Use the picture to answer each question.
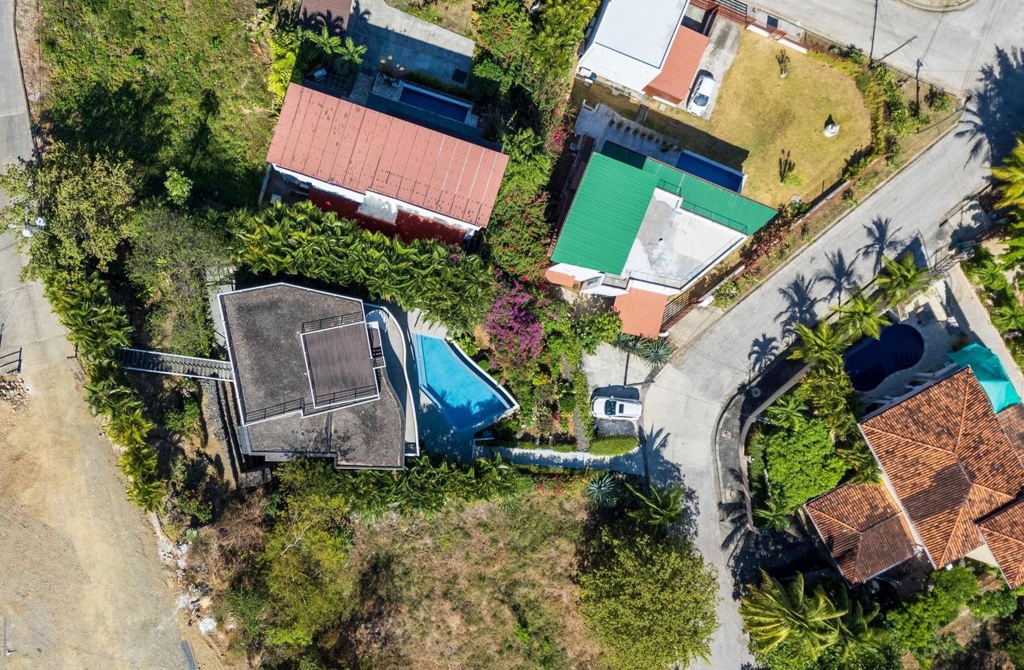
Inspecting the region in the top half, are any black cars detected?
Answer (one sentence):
No, I can find no black car in the top half.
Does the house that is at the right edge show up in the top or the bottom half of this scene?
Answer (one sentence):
You can find the house that is at the right edge in the bottom half.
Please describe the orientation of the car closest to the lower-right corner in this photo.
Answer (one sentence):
I'd say the car closest to the lower-right corner is aligned from side to side in the picture.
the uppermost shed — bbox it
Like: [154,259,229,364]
[299,0,353,38]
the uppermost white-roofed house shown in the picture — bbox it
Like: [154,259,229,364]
[577,0,718,109]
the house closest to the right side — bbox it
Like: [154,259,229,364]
[800,365,1024,596]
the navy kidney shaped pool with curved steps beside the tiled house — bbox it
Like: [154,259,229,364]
[845,323,924,390]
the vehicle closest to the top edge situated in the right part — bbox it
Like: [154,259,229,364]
[686,72,715,117]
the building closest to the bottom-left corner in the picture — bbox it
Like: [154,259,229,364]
[218,283,422,470]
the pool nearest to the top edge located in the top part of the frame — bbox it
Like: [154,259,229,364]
[393,79,477,127]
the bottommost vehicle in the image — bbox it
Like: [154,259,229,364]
[591,396,641,420]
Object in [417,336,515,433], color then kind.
blue swimming pool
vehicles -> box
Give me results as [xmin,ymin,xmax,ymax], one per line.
[686,72,715,117]
[591,396,641,420]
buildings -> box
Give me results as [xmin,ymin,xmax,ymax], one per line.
[266,83,509,263]
[299,0,353,38]
[577,0,718,109]
[545,130,779,339]
[218,283,422,470]
[800,365,1024,596]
